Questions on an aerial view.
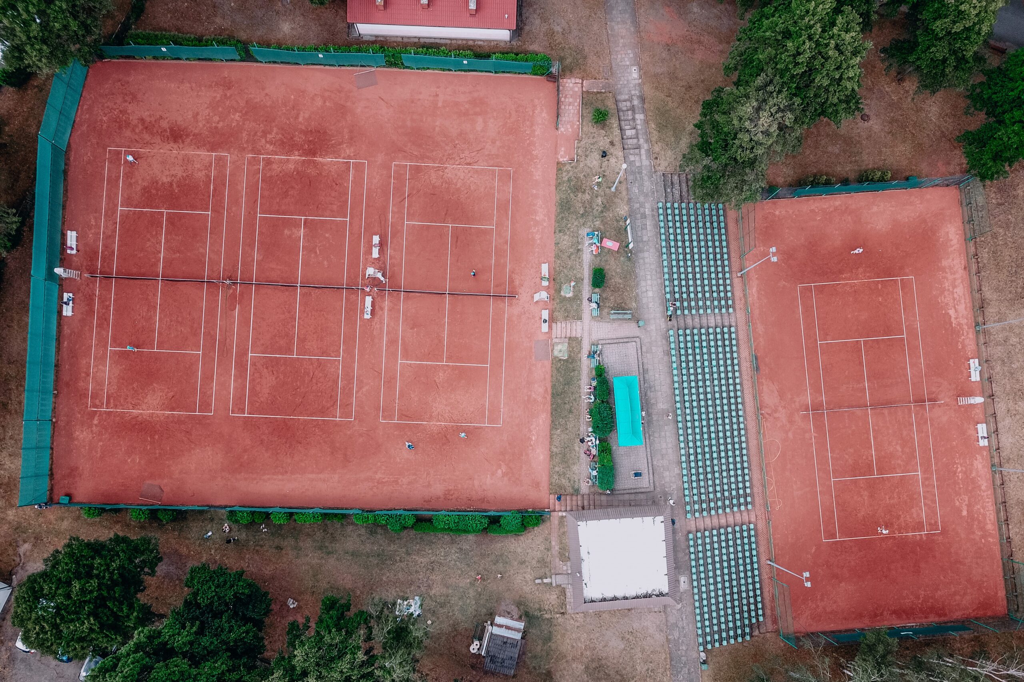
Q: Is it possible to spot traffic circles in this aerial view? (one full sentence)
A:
No, no traffic circle can be seen from above.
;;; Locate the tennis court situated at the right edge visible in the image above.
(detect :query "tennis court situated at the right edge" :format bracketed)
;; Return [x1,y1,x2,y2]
[751,188,1007,636]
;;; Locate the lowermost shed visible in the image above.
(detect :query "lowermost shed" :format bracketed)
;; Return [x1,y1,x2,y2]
[484,611,525,674]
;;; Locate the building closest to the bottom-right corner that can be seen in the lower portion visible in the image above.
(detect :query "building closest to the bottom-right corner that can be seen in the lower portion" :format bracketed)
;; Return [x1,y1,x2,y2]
[565,504,682,614]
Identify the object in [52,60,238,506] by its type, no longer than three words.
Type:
tennis court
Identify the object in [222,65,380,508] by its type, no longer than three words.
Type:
tennis court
